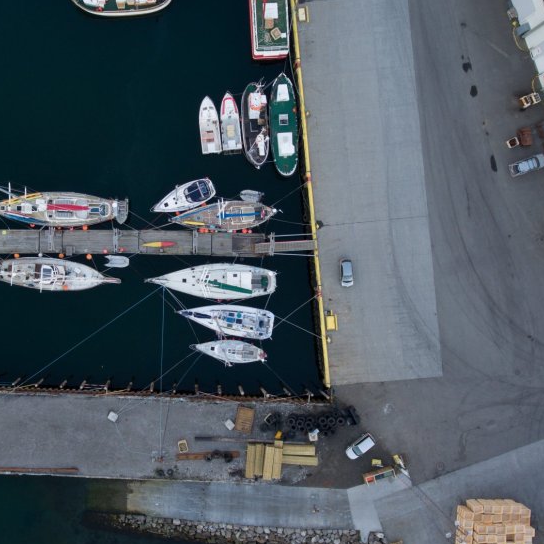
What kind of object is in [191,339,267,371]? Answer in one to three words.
boat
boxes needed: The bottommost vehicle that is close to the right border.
[511,154,544,175]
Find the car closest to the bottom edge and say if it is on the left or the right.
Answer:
right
